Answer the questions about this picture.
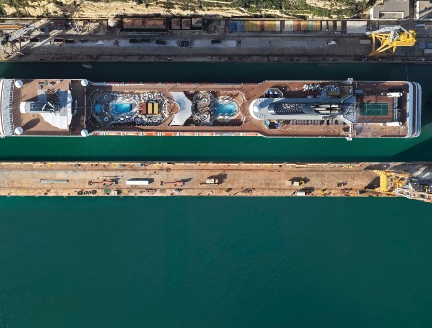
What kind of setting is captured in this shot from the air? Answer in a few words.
port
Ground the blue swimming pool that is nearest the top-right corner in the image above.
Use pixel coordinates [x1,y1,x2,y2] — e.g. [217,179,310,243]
[215,100,237,117]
